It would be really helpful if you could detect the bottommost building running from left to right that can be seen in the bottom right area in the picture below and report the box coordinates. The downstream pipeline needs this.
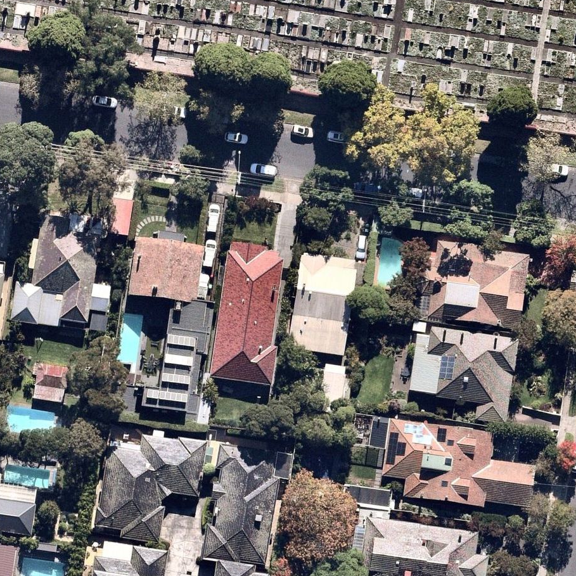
[363,509,492,576]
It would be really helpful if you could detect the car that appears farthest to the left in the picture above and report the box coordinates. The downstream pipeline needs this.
[91,95,118,108]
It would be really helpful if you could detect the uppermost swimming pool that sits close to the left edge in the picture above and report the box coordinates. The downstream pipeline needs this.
[8,405,57,433]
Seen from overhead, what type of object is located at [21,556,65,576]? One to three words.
swimming pool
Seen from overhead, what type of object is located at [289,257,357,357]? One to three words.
house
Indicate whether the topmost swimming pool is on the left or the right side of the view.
right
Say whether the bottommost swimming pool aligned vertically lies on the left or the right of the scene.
left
